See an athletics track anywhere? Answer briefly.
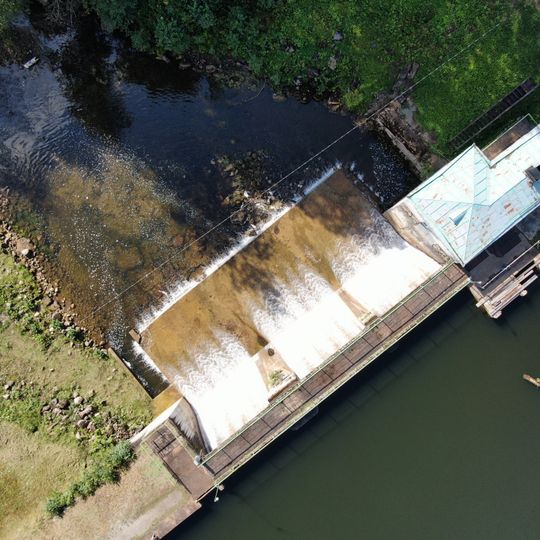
No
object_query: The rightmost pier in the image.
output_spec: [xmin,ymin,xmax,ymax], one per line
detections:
[459,237,540,321]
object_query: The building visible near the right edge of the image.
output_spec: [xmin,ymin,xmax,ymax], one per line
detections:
[382,121,540,285]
